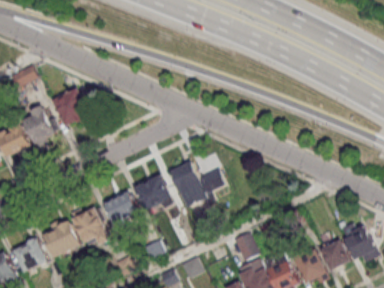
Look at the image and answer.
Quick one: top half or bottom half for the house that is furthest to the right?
bottom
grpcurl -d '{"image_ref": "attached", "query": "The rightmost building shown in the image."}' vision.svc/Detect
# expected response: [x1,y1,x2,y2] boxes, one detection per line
[344,226,380,261]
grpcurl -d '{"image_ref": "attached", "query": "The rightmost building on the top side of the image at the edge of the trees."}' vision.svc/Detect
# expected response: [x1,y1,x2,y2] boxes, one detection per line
[50,88,81,126]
